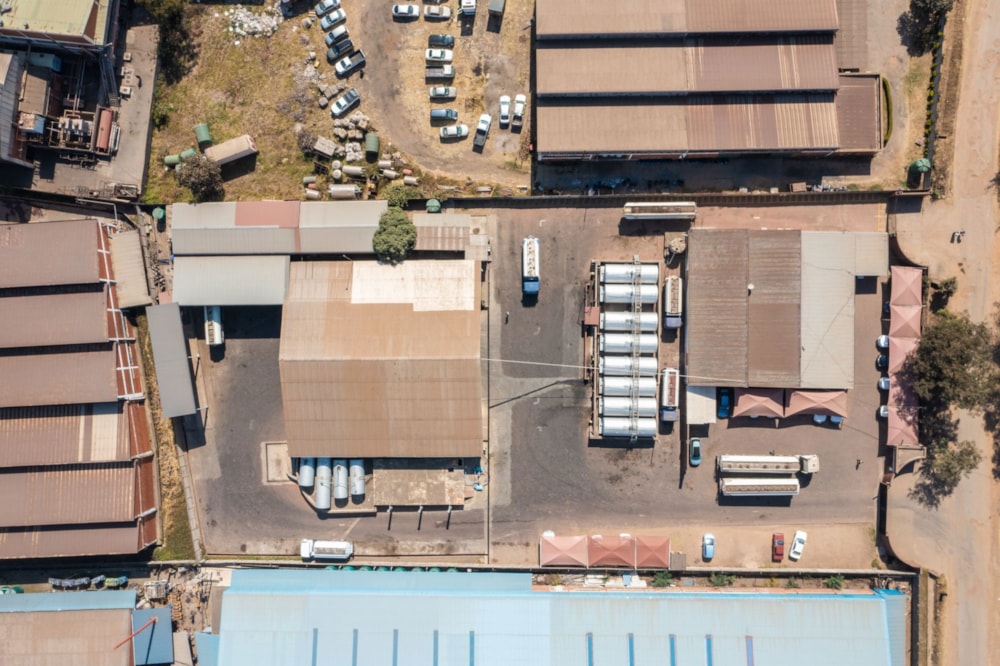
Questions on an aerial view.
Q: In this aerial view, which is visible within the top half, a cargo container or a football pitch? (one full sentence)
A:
The one visible within the top half is a cargo container.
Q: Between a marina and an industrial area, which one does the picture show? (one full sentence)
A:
The picture captures an industrial area.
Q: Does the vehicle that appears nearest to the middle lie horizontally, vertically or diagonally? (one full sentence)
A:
The vehicle that appears nearest to the middle is laid out vertically.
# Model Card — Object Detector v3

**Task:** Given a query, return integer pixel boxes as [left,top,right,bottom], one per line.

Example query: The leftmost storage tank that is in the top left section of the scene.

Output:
[95,107,124,157]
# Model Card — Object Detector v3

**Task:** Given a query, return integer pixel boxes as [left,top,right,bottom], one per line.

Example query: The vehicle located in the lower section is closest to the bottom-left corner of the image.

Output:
[302,537,355,559]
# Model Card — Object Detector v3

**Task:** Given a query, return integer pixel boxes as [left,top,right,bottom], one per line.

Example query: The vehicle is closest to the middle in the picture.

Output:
[521,237,541,296]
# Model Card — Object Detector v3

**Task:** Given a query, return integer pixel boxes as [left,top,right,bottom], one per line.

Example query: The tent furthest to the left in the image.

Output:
[539,530,588,567]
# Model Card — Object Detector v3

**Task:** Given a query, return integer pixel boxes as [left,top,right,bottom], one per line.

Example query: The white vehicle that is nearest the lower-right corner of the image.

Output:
[788,529,805,560]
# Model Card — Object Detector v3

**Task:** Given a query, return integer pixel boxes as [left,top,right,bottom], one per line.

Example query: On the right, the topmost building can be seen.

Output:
[535,0,885,161]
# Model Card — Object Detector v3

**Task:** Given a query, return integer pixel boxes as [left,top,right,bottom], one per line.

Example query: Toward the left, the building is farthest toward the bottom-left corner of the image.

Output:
[0,590,143,666]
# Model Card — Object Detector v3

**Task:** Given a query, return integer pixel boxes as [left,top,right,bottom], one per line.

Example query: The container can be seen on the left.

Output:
[201,131,259,166]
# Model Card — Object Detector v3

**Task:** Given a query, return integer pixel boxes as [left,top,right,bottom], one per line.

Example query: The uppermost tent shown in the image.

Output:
[889,266,923,306]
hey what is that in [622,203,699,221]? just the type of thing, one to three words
trailer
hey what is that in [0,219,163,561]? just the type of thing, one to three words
building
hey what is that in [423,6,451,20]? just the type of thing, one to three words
vehicle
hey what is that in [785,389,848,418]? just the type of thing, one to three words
tent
